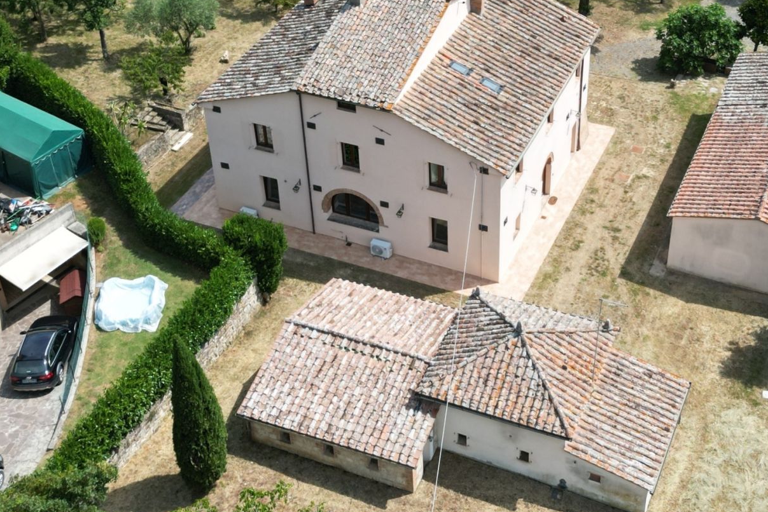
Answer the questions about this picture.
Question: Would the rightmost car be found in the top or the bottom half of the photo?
bottom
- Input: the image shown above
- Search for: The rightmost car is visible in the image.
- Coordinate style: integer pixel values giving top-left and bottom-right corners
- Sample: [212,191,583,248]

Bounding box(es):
[11,319,80,389]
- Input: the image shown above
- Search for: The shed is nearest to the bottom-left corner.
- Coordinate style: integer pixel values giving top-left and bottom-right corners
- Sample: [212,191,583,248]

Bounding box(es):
[52,268,86,321]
